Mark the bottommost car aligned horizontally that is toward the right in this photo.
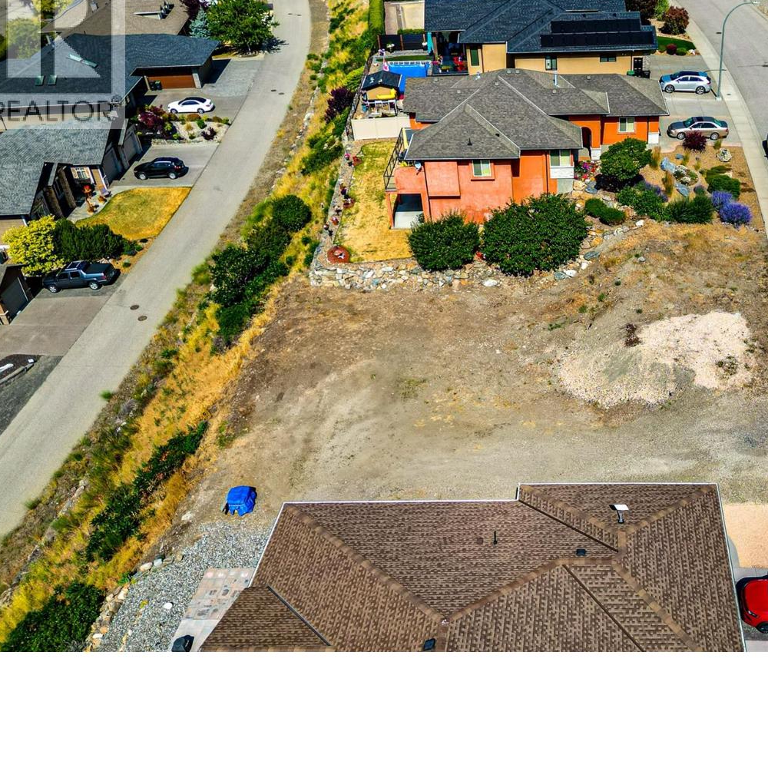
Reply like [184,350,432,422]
[666,112,727,136]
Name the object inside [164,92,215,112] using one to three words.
car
